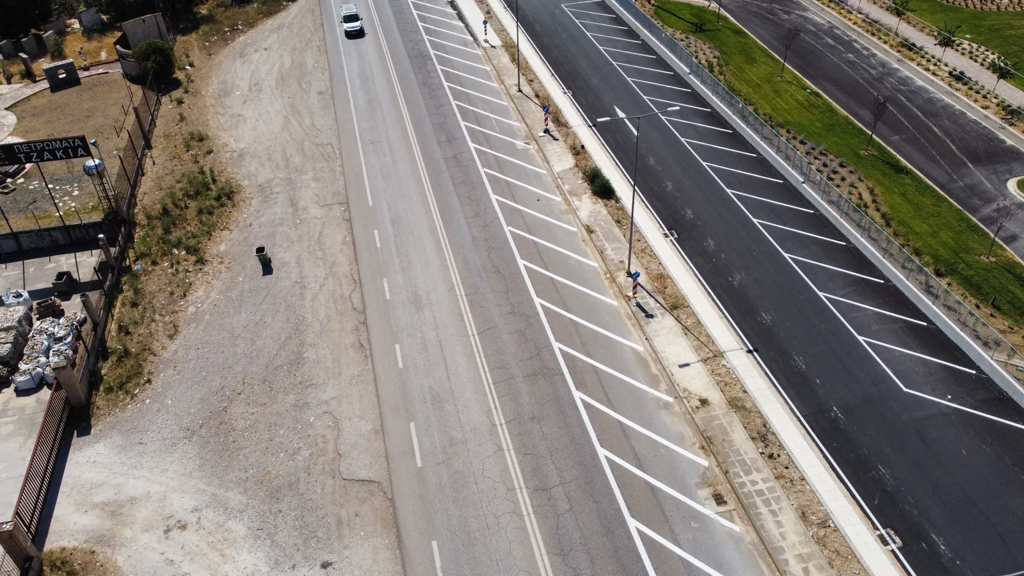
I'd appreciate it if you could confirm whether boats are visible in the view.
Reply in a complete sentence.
No, there is no boat in the image.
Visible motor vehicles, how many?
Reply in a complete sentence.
The count comes to 1 motor vehicle.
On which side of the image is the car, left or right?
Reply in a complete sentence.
The car appears in the left half of the scene.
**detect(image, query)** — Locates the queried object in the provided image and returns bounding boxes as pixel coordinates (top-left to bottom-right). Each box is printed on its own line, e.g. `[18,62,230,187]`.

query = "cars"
[340,3,366,40]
